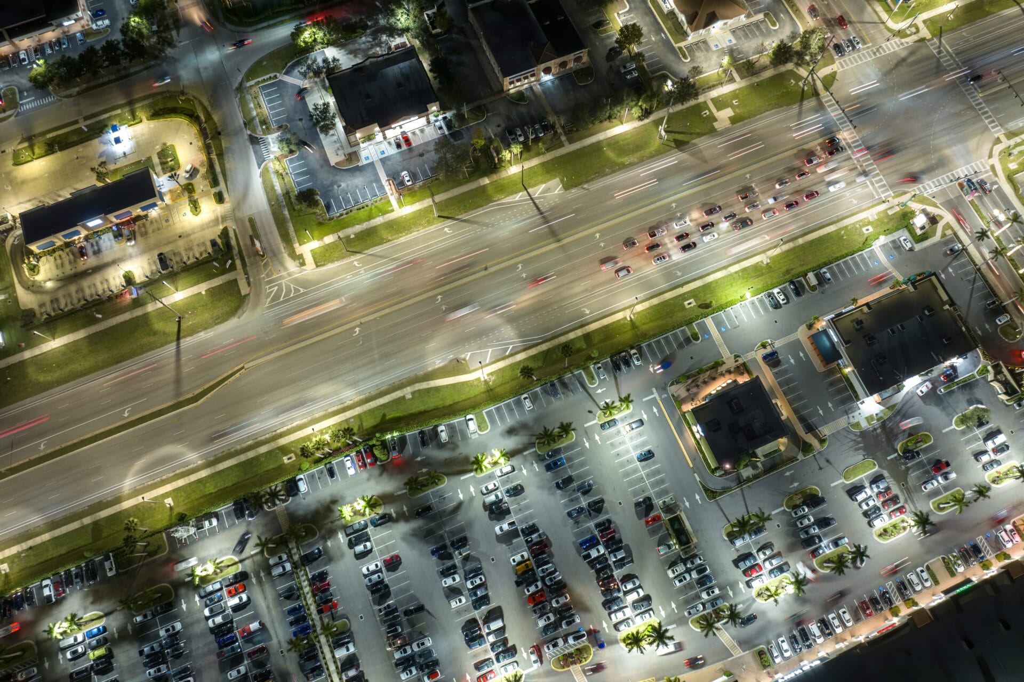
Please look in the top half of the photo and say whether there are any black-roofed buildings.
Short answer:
Yes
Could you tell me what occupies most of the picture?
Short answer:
paved ground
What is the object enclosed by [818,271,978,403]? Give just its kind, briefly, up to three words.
building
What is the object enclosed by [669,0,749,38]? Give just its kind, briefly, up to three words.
building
